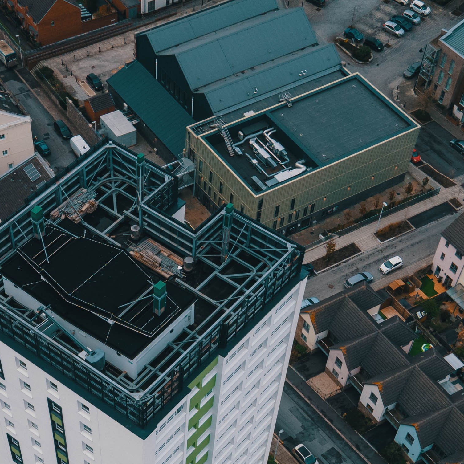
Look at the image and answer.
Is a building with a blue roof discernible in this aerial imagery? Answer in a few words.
Yes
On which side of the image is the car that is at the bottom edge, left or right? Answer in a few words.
right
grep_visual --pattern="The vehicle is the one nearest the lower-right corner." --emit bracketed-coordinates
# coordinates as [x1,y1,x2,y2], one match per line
[292,441,320,464]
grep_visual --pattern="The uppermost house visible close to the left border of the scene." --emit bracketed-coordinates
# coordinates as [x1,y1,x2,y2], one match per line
[0,0,82,51]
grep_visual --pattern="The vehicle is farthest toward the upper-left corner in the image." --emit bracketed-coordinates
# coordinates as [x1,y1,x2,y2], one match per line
[0,39,18,70]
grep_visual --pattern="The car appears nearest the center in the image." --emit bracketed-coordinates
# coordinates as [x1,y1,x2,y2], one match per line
[295,259,322,280]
